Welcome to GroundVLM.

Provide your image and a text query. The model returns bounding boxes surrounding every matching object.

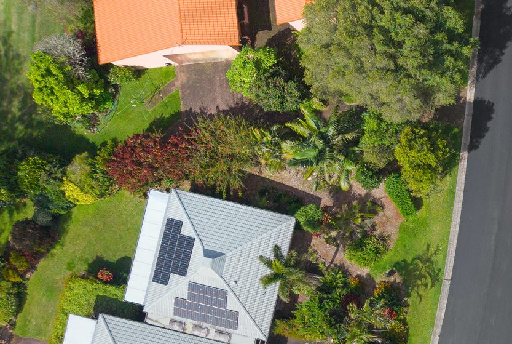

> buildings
[97,0,242,68]
[125,188,299,344]
[277,0,333,32]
